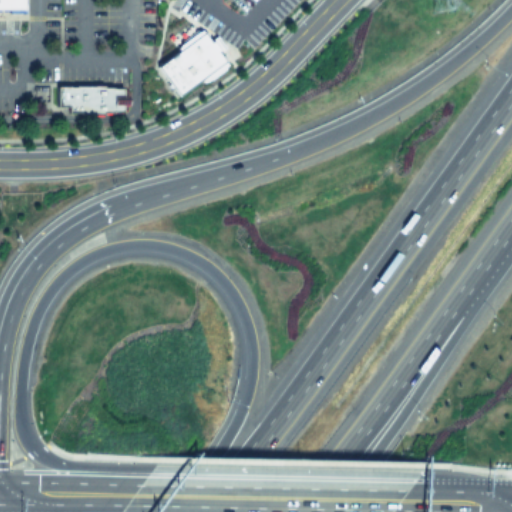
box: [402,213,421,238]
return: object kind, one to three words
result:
vehicle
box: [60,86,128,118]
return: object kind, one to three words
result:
building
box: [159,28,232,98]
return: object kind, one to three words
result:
building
